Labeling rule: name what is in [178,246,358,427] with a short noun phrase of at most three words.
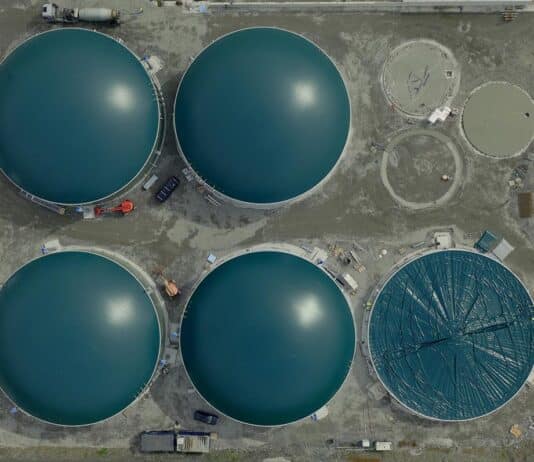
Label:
storage tank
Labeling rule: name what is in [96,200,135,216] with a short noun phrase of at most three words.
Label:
work vehicle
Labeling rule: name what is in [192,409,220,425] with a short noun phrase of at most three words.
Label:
car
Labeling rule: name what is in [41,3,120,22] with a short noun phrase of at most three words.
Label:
vehicle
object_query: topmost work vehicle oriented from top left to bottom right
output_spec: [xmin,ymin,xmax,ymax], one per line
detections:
[156,269,178,296]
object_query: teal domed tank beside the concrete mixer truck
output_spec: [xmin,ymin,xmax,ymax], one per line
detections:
[0,27,167,210]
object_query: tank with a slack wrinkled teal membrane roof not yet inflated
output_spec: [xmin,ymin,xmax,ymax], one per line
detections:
[362,245,534,422]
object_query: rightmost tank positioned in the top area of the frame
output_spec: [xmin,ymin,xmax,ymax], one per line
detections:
[172,27,353,209]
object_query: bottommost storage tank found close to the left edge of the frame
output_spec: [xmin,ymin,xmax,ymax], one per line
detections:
[0,246,168,427]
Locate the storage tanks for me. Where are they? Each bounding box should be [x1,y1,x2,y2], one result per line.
[0,246,168,427]
[172,27,353,209]
[0,27,167,210]
[362,245,534,422]
[178,246,358,427]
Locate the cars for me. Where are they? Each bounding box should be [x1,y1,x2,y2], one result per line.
[192,409,220,425]
[154,176,181,203]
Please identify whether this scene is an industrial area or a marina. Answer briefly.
industrial area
